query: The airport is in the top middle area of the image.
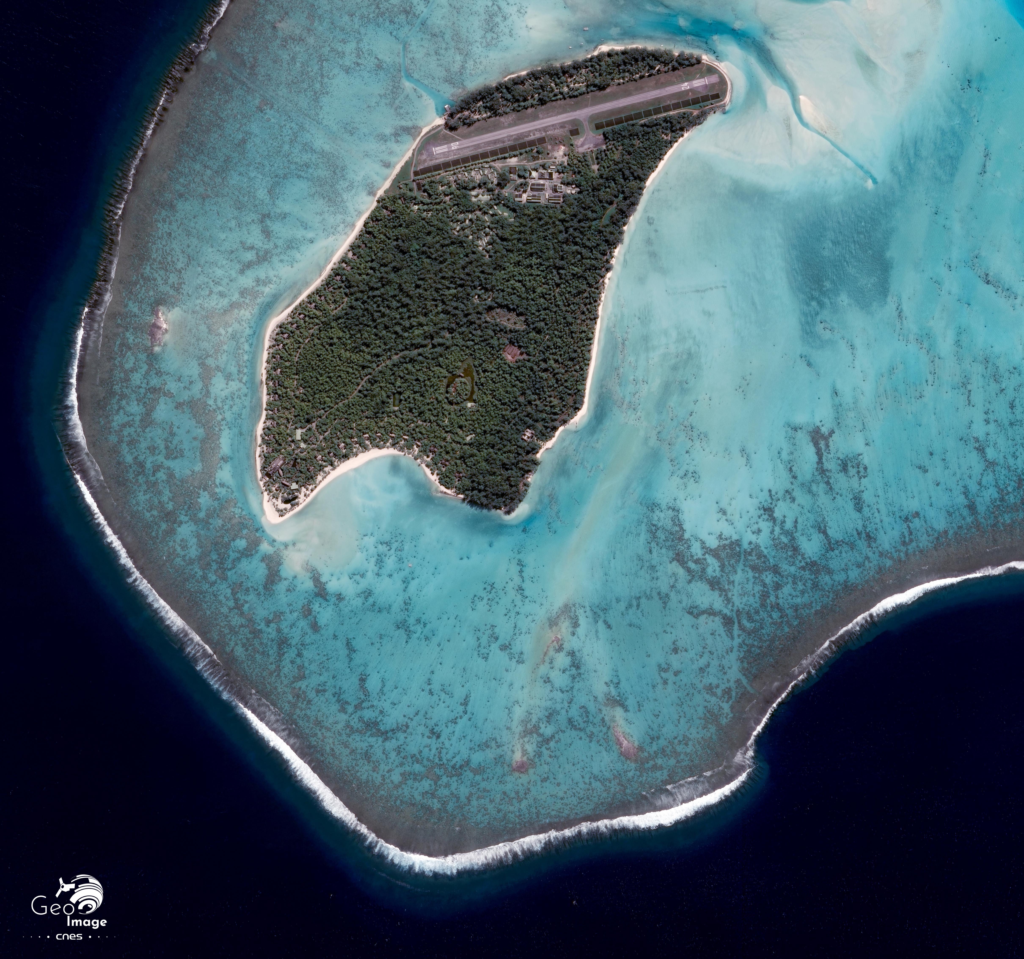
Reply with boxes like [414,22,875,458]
[414,62,727,174]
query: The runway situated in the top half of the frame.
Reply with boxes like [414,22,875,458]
[432,74,719,155]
